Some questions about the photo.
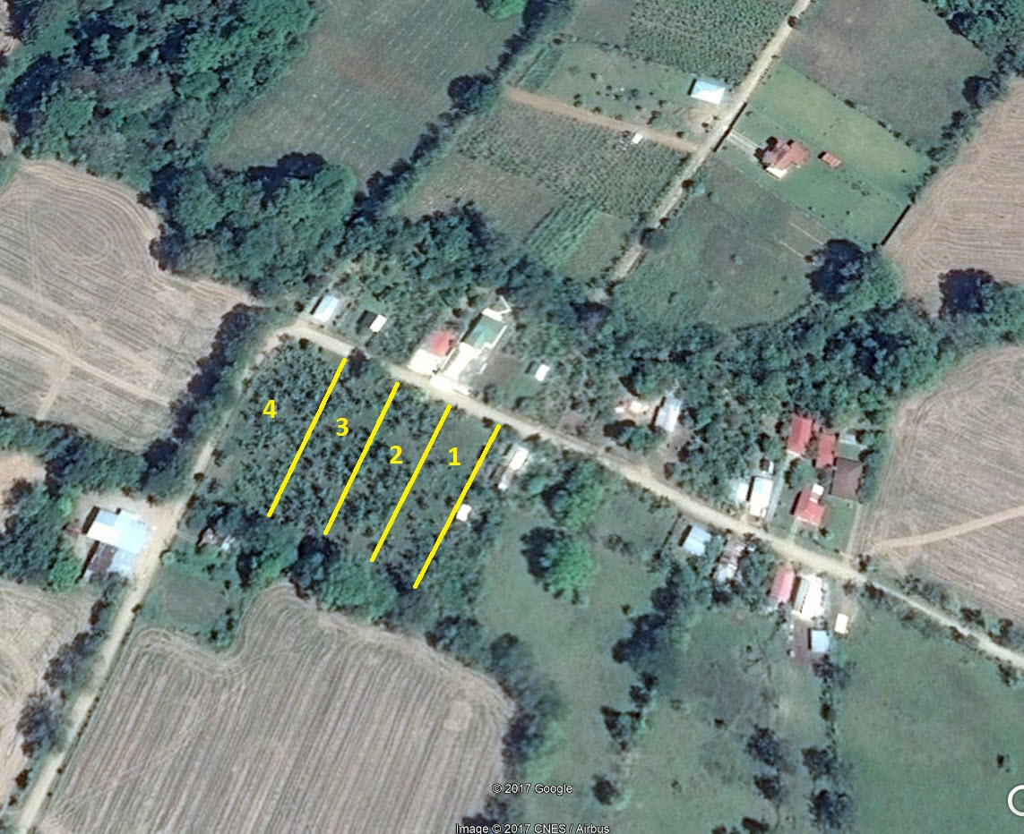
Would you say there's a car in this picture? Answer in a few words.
No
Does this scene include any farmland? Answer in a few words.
Yes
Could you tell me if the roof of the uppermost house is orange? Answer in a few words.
No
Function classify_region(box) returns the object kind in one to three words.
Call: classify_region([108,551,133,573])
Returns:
shed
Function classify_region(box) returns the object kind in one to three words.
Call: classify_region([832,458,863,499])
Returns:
house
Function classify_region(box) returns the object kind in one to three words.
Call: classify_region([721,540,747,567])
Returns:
house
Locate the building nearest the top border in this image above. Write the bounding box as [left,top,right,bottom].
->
[691,78,725,104]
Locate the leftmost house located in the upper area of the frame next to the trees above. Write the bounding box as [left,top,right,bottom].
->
[312,295,338,321]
